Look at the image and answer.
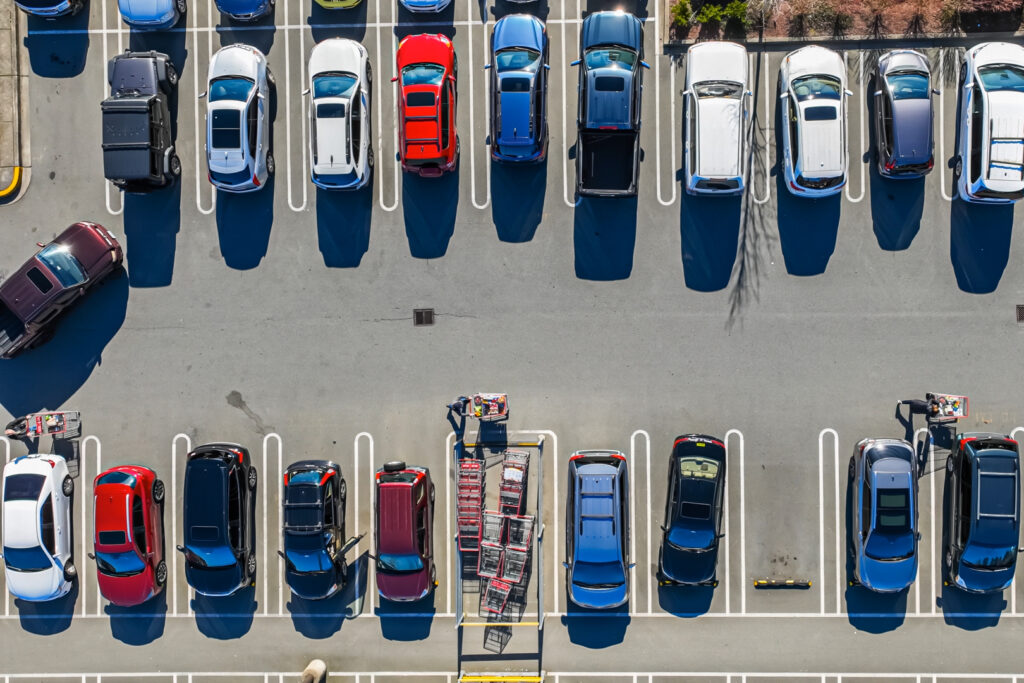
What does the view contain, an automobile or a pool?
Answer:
automobile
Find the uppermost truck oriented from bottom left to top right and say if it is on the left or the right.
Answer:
left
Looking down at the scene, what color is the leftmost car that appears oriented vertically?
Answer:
white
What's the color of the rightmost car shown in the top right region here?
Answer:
white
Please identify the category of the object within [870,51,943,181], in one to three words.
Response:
car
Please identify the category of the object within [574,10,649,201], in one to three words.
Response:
vehicle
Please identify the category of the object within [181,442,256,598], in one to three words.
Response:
car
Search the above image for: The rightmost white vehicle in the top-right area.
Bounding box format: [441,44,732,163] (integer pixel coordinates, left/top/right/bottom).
[952,43,1024,205]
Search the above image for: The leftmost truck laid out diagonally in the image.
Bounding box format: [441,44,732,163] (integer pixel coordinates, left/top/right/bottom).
[0,222,129,365]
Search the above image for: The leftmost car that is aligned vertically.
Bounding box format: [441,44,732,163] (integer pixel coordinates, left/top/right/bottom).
[0,453,74,603]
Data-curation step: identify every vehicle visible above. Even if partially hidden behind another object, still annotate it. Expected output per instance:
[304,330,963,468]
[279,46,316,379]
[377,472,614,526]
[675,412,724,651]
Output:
[952,43,1024,205]
[403,0,448,14]
[662,434,730,586]
[390,34,456,179]
[102,50,179,191]
[780,47,854,199]
[21,0,78,17]
[278,458,370,602]
[89,465,164,608]
[870,51,943,181]
[564,449,634,610]
[947,432,1024,594]
[200,44,273,194]
[217,0,275,22]
[369,461,436,603]
[0,453,74,603]
[0,222,129,365]
[301,38,371,191]
[485,15,552,164]
[849,436,923,592]
[181,442,256,598]
[682,40,754,197]
[574,10,649,201]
